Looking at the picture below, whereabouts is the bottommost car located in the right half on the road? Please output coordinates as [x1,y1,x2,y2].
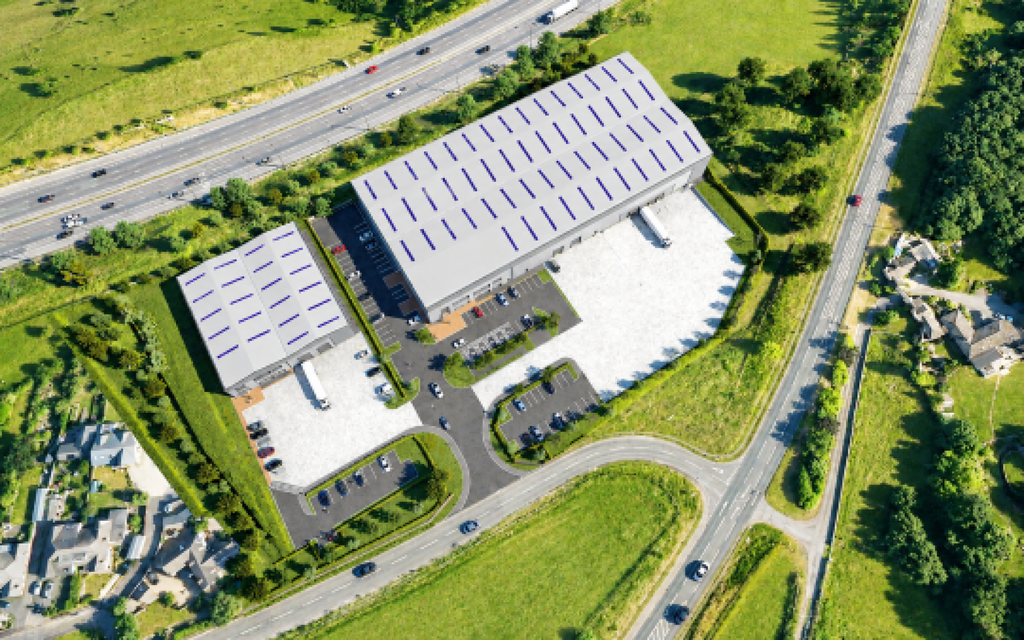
[670,601,690,627]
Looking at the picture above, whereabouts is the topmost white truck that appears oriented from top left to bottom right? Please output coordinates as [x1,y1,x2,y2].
[640,200,674,248]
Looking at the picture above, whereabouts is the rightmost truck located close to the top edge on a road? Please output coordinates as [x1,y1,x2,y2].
[543,0,586,24]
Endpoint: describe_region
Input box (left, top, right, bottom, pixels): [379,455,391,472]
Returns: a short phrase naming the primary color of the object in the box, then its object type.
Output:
white vehicle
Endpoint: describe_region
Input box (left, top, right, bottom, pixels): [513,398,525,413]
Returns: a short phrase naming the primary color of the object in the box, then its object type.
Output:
blue vehicle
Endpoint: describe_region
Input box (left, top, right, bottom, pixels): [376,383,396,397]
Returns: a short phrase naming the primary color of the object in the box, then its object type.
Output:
white car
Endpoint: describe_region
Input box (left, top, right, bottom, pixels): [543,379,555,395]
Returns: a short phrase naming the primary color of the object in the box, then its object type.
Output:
black vehicle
